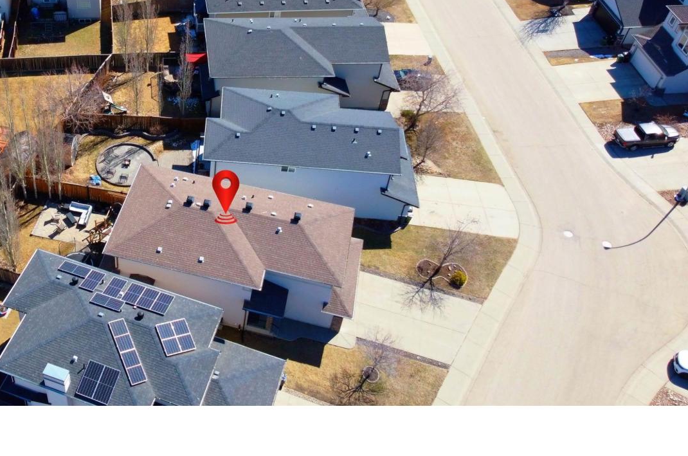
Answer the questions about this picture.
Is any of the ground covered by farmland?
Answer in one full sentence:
No, no farmland is visible.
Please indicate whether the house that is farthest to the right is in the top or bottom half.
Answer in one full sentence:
It is in the top half that the house that is farthest to the right appears.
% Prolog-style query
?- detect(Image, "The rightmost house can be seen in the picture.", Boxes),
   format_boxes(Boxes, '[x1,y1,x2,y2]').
[626,0,688,97]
